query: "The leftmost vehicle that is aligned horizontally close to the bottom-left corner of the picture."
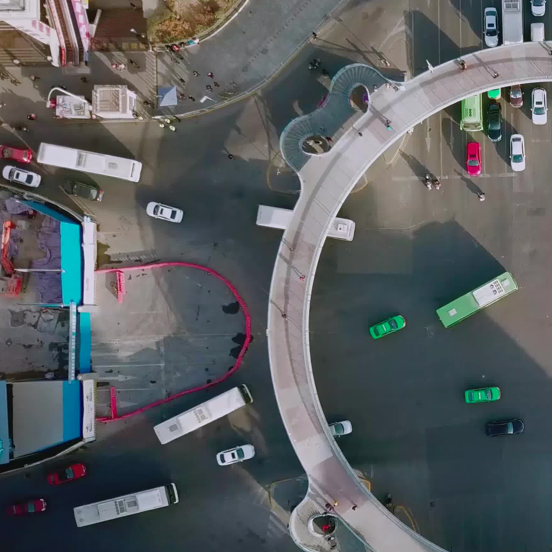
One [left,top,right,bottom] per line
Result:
[9,496,47,514]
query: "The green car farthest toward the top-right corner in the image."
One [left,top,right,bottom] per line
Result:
[487,87,502,102]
